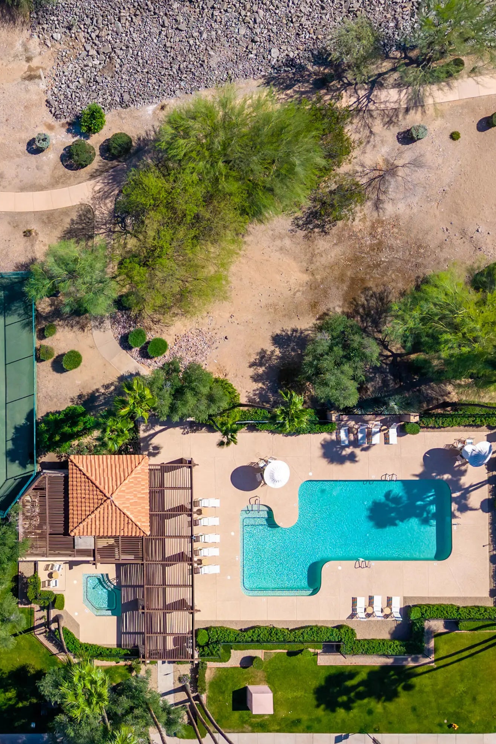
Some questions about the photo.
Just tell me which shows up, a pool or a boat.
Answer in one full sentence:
The image shows a pool.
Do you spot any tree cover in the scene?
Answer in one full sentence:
Yes, some tree cover is visible.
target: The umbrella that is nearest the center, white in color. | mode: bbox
[261,458,291,489]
